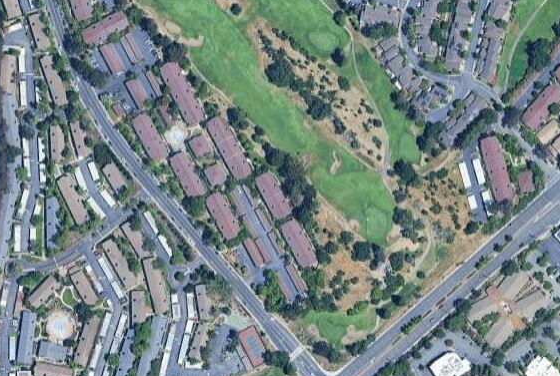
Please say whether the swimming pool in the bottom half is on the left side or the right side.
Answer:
left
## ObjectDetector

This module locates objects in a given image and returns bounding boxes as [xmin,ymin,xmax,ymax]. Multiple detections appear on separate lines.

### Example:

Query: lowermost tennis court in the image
[237,326,263,365]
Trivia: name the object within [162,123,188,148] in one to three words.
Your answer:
swimming pool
